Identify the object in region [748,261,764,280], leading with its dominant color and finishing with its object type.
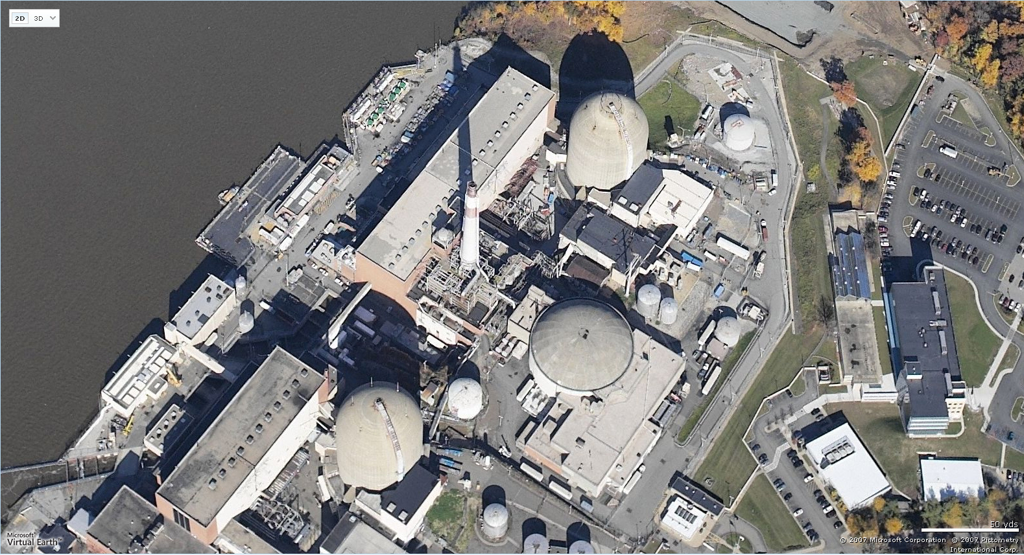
white vehicle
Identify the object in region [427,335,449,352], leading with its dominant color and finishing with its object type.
white vehicle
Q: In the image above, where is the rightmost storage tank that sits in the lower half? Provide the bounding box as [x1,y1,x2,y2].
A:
[713,317,743,350]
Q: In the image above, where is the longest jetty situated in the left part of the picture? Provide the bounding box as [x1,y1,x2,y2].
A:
[194,143,305,273]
